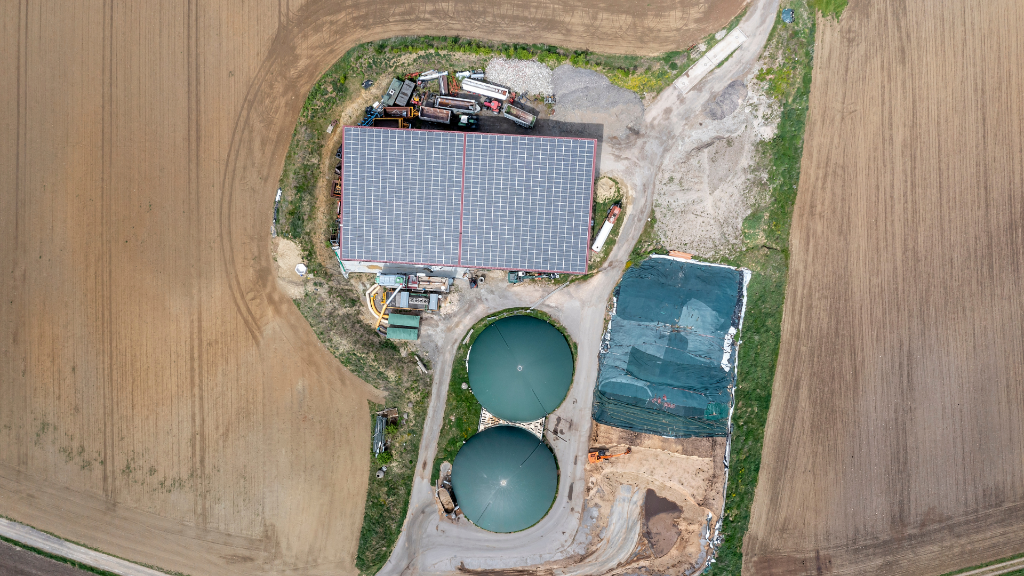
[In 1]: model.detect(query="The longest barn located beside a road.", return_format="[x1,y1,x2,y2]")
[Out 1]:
[340,126,597,275]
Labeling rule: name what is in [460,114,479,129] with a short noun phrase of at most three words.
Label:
work vehicle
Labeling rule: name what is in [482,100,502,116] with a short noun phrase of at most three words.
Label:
work vehicle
